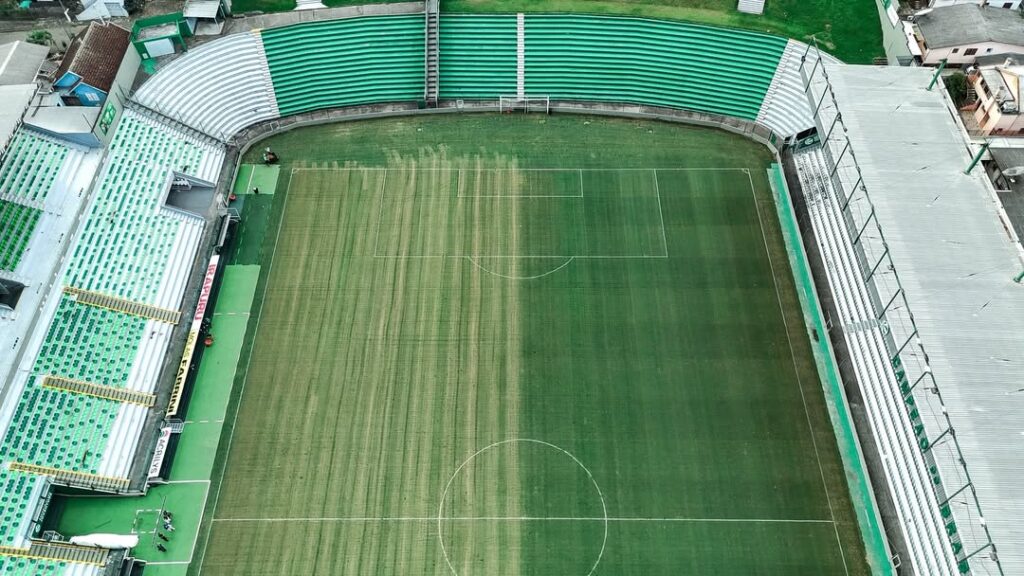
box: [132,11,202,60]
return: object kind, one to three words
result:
building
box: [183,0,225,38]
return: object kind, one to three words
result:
shed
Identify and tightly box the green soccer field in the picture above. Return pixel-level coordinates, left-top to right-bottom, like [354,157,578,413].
[185,111,872,576]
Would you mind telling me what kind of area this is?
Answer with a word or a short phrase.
sports ground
